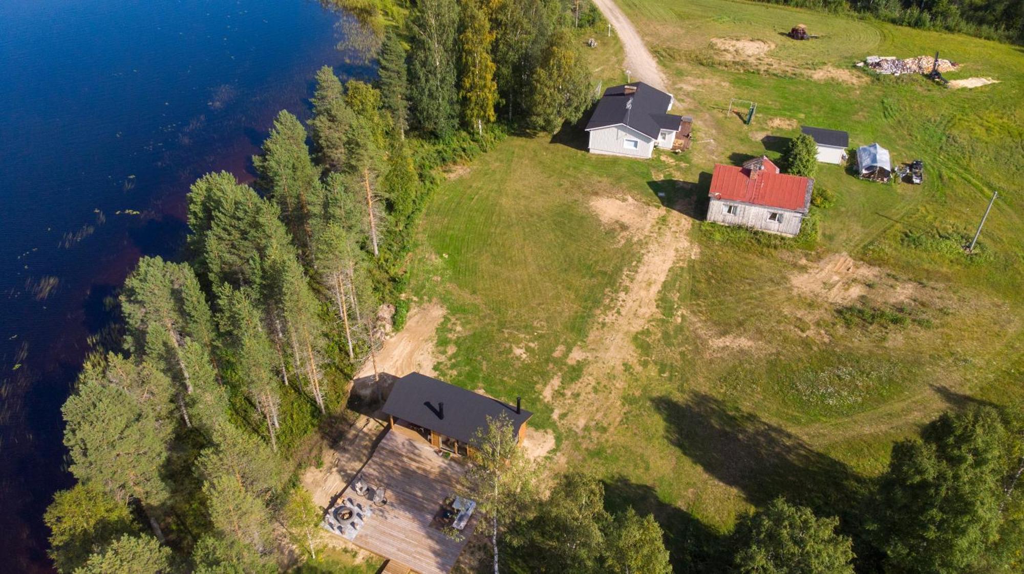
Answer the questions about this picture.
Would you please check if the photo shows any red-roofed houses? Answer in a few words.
Yes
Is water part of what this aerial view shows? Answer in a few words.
Yes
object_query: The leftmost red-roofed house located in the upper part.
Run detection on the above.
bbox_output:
[707,154,814,236]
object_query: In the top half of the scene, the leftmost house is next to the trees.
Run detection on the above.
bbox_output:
[585,81,683,159]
